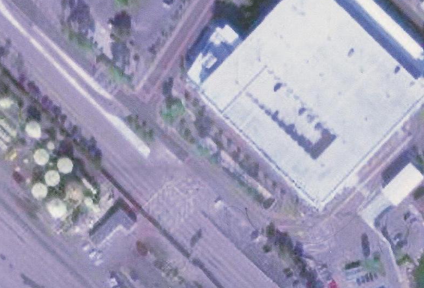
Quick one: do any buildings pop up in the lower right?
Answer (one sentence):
Yes, looking in the lower right, one can make out a building.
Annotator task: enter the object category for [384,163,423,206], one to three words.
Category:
building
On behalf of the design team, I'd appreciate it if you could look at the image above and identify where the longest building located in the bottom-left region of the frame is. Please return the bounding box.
[91,211,135,247]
